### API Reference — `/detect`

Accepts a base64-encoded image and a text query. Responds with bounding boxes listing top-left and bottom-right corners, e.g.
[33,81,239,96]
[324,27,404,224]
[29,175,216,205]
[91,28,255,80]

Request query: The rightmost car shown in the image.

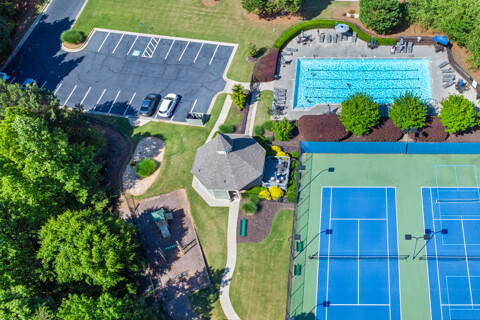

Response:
[158,94,181,118]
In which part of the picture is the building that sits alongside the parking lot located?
center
